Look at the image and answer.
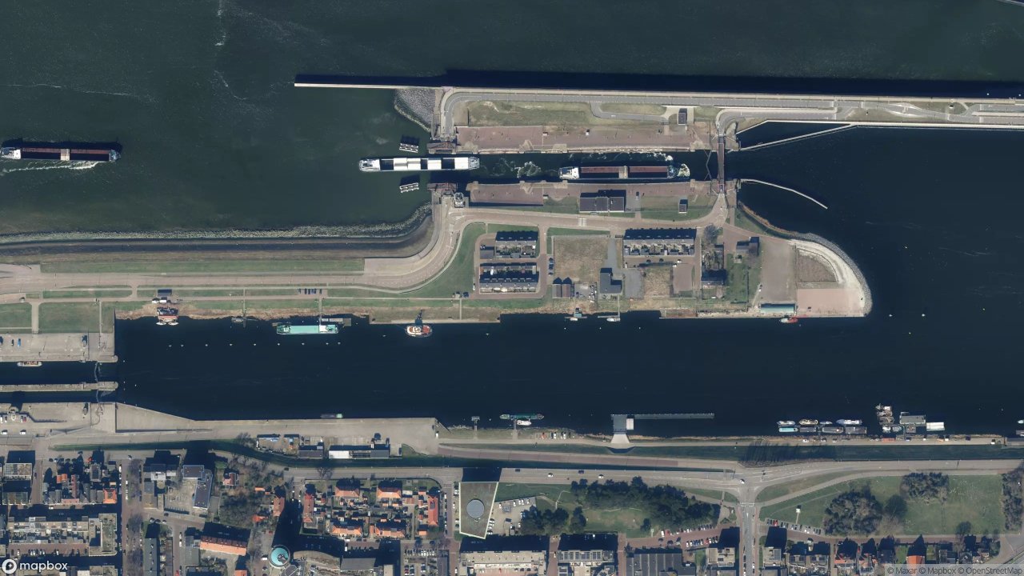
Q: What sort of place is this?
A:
port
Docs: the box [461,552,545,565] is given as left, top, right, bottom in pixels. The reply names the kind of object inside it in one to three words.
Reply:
building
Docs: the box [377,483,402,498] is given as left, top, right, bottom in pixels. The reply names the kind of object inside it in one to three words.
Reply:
house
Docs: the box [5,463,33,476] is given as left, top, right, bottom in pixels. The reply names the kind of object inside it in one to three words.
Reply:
building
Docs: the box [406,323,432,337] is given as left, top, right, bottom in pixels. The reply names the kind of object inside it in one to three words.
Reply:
boat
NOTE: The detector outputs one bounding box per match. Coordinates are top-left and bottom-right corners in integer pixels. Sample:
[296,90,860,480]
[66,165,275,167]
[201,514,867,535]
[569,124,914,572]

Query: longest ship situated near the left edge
[1,147,121,162]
